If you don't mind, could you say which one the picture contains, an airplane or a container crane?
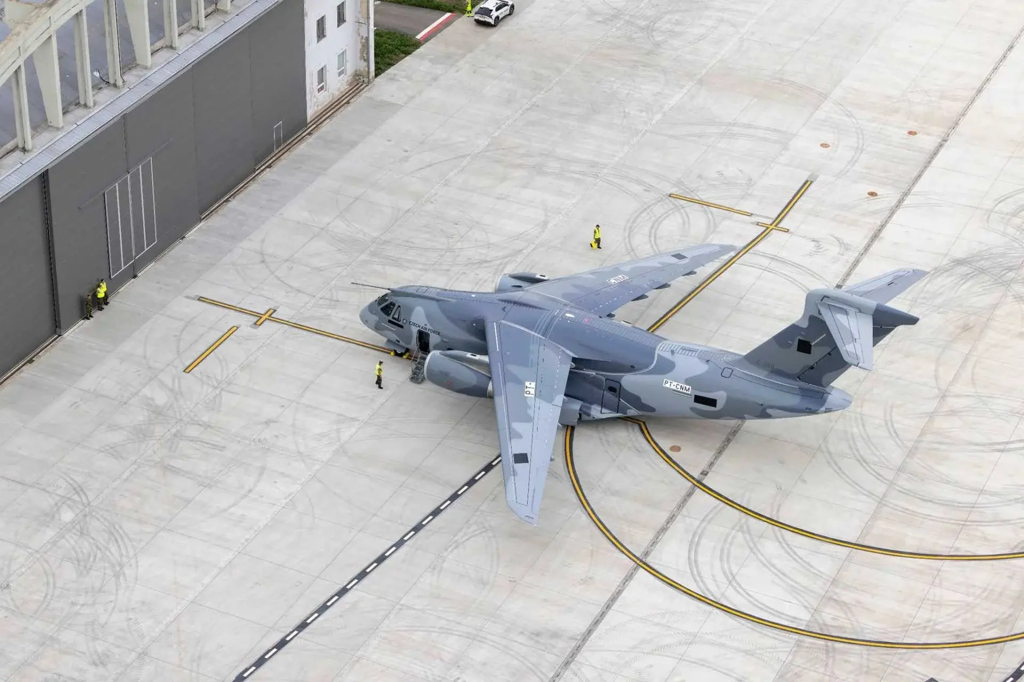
airplane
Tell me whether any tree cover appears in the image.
No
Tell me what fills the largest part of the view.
paved ground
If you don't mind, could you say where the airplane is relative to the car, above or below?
below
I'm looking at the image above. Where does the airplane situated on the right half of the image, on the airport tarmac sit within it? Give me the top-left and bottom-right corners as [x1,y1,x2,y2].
[349,243,927,526]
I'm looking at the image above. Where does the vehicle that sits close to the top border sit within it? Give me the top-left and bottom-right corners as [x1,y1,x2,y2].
[474,0,517,24]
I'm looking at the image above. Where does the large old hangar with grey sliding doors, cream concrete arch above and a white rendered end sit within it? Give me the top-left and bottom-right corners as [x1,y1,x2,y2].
[0,0,383,374]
